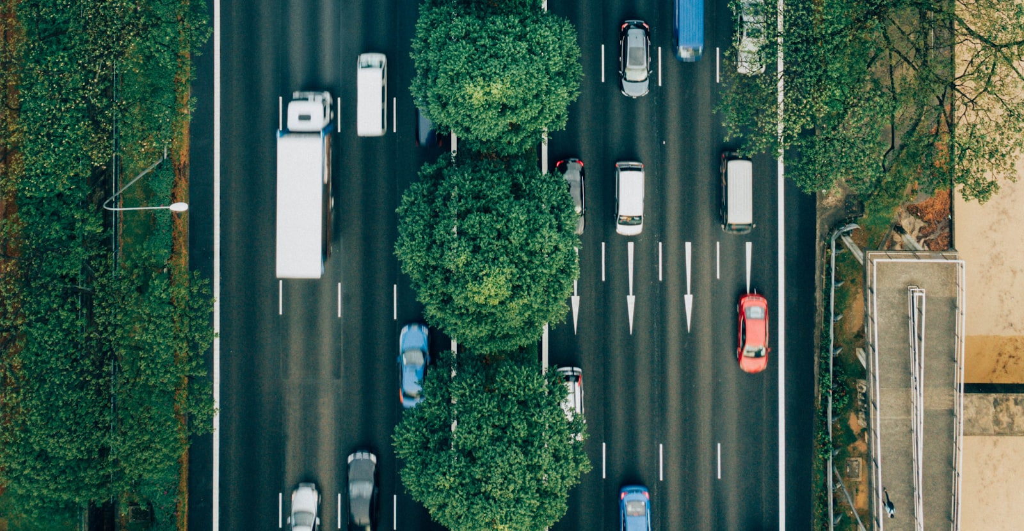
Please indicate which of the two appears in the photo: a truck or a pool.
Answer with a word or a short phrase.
truck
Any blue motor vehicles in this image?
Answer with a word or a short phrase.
Yes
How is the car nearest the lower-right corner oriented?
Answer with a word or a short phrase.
from top to bottom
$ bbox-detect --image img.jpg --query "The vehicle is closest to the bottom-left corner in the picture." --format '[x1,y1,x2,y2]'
[287,482,323,531]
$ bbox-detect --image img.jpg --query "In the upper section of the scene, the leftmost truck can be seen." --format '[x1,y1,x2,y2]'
[277,90,339,278]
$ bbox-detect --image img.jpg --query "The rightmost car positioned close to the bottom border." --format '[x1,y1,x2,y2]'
[620,484,650,531]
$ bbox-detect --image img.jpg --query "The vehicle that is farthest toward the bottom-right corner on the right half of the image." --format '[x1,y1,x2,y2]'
[735,293,771,373]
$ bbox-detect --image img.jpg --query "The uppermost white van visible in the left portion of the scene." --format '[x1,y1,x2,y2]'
[353,53,390,139]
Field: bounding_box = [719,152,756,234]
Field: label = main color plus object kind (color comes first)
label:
white van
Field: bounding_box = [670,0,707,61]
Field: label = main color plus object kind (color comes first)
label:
blue van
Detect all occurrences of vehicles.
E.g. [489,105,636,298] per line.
[409,77,444,148]
[277,90,339,278]
[616,20,654,97]
[353,53,390,139]
[719,152,756,234]
[553,366,587,445]
[670,0,707,61]
[395,322,432,407]
[620,484,650,531]
[344,451,381,531]
[735,293,771,373]
[554,158,588,232]
[287,482,323,531]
